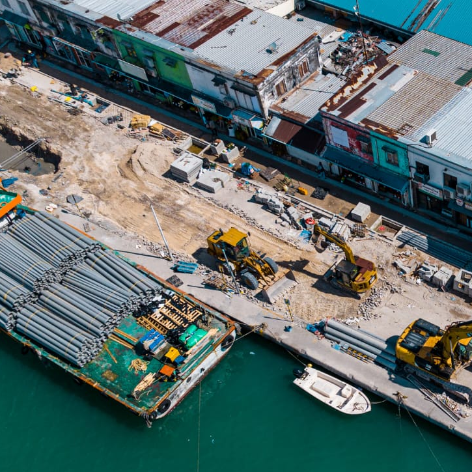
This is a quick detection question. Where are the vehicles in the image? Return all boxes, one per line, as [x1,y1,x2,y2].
[213,227,302,306]
[313,223,382,301]
[393,314,472,401]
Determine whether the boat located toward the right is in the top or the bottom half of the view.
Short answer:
bottom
